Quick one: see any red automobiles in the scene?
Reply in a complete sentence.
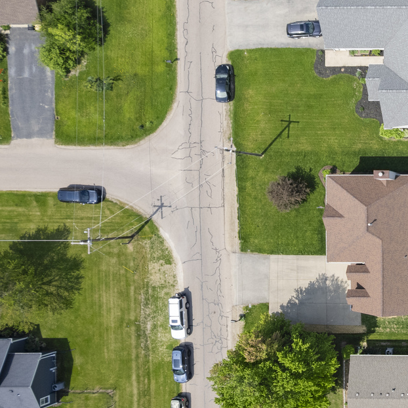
No, the scene contains no red automobile.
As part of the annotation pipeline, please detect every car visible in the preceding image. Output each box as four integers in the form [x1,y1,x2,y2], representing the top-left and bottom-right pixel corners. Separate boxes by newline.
[169,346,190,382]
[57,185,107,205]
[170,393,190,408]
[166,293,189,338]
[287,20,323,38]
[215,64,235,103]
